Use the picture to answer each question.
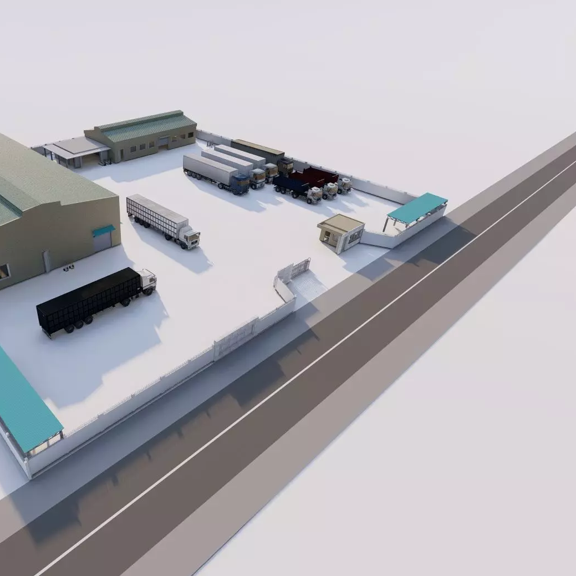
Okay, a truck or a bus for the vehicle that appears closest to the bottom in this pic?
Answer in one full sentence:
I'd say the vehicle that appears closest to the bottom is a truck.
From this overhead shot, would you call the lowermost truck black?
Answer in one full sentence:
Yes, the lowermost truck appears black.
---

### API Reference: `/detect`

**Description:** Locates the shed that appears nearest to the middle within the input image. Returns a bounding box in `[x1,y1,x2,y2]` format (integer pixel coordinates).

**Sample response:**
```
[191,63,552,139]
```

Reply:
[314,214,365,255]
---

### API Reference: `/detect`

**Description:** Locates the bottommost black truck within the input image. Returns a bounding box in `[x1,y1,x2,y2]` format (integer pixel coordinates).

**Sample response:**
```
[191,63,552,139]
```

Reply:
[36,267,158,339]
